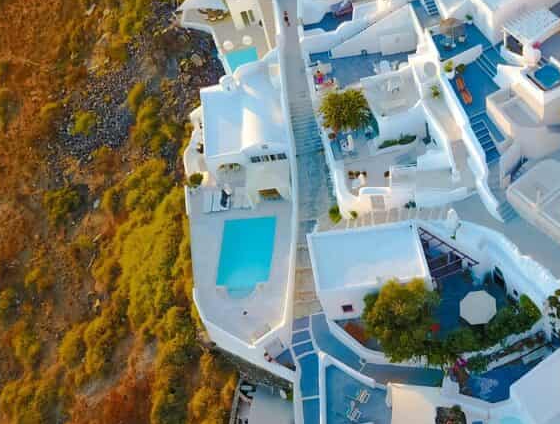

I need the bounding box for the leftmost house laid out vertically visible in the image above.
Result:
[200,87,247,174]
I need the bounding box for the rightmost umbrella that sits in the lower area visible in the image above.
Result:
[455,289,502,333]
